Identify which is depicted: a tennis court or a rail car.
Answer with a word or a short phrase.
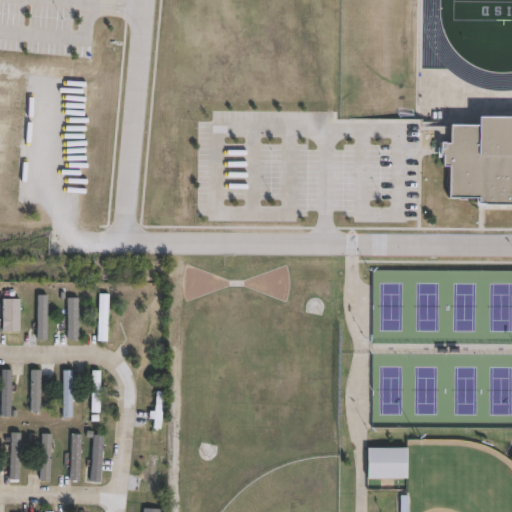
tennis court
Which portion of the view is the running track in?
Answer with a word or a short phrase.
top right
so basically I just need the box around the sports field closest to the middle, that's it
[184,262,339,512]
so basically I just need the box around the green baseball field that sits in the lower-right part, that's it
[406,439,512,512]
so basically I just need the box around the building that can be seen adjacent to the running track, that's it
[440,116,512,210]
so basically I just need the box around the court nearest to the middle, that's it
[380,284,402,332]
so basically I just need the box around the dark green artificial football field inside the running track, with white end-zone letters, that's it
[444,0,512,71]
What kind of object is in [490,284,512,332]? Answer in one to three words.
tennis court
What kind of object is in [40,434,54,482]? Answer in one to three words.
house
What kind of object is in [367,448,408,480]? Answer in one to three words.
building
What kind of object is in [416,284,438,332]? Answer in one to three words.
tennis court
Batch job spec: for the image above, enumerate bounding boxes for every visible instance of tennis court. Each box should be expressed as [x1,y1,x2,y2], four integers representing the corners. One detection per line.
[380,284,402,332]
[416,284,438,332]
[490,367,512,414]
[415,367,437,414]
[490,284,512,332]
[380,367,402,414]
[455,367,477,414]
[454,284,476,332]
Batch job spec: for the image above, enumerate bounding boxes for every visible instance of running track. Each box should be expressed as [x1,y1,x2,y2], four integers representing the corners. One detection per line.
[423,0,512,90]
